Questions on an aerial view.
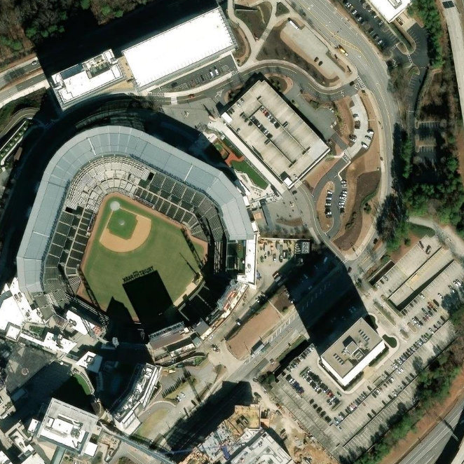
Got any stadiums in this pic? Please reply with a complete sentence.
Yes, a stadium can be made out from above.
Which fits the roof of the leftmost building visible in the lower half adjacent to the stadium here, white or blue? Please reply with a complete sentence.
The color of the roof of the leftmost building visible in the lower half adjacent to the stadium is white.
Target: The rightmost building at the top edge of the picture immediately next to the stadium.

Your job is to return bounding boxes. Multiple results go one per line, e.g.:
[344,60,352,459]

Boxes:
[124,8,239,96]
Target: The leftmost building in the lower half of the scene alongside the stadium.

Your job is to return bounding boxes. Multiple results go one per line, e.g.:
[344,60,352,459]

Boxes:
[0,278,45,343]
